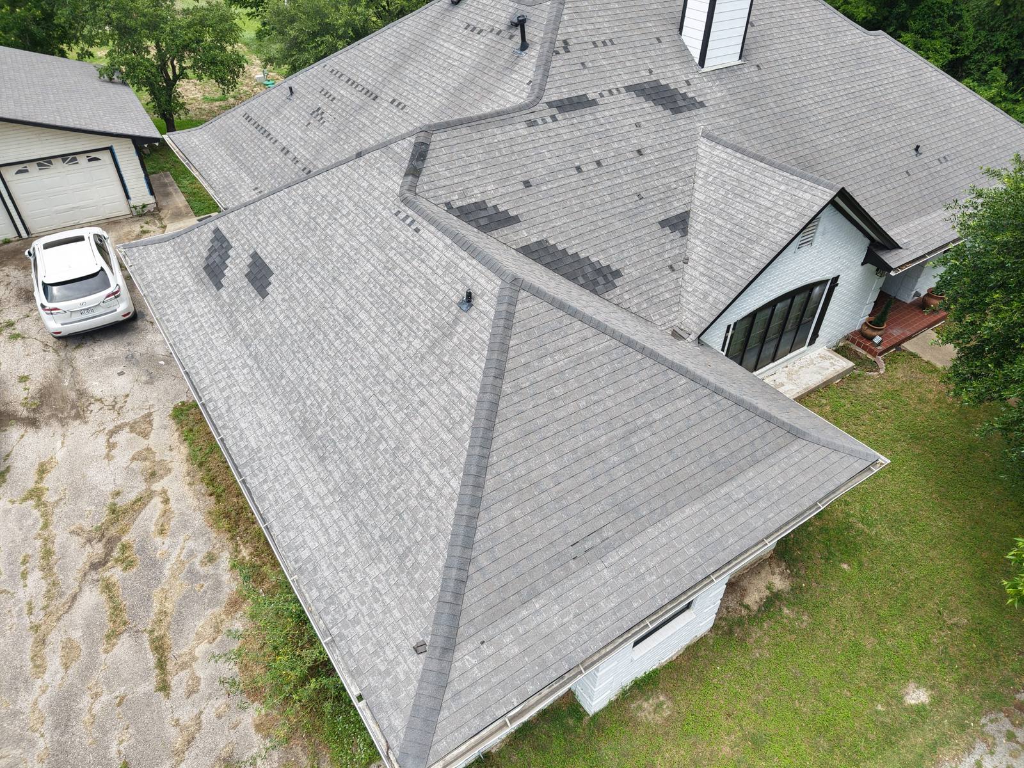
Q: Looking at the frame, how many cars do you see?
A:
one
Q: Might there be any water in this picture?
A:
No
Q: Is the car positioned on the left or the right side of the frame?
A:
left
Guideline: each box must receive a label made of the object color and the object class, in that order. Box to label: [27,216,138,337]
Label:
white car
